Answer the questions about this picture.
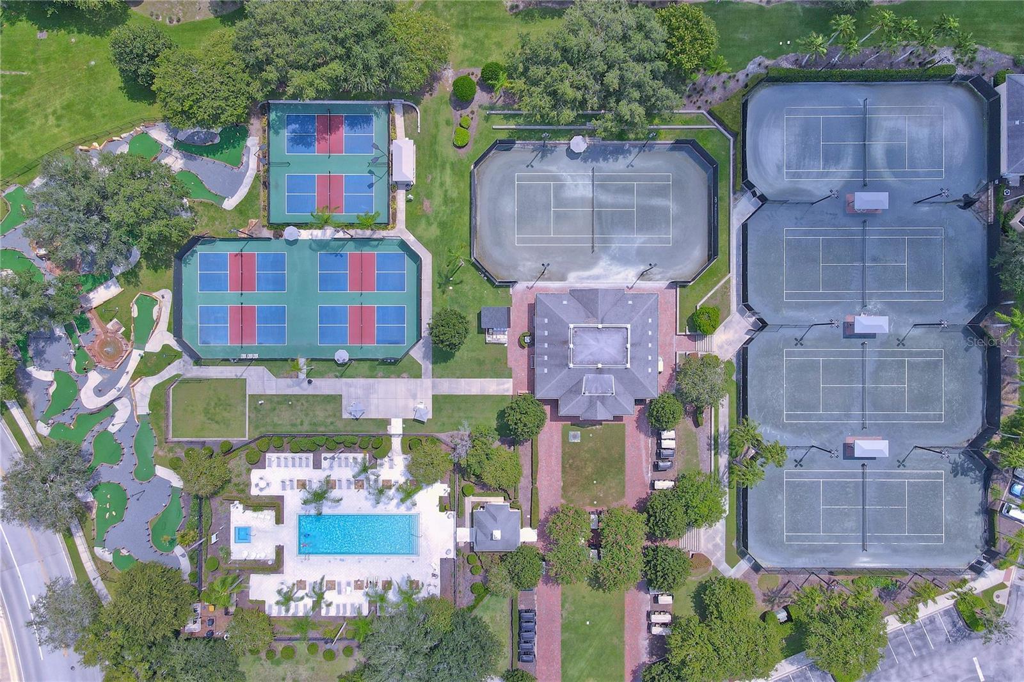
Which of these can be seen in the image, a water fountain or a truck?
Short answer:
water fountain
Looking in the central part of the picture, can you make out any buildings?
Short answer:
Yes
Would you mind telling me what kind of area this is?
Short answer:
sports ground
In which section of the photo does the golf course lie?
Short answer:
left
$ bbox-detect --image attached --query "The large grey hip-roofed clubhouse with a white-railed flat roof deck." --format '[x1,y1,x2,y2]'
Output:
[535,289,658,420]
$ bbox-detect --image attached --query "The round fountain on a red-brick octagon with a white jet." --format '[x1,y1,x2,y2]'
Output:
[88,310,131,368]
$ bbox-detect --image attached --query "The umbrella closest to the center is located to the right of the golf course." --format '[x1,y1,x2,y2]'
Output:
[414,404,429,420]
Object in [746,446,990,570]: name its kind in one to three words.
tennis court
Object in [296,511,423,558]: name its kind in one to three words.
swimming pool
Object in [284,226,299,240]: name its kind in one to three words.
umbrella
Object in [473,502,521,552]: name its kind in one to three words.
building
